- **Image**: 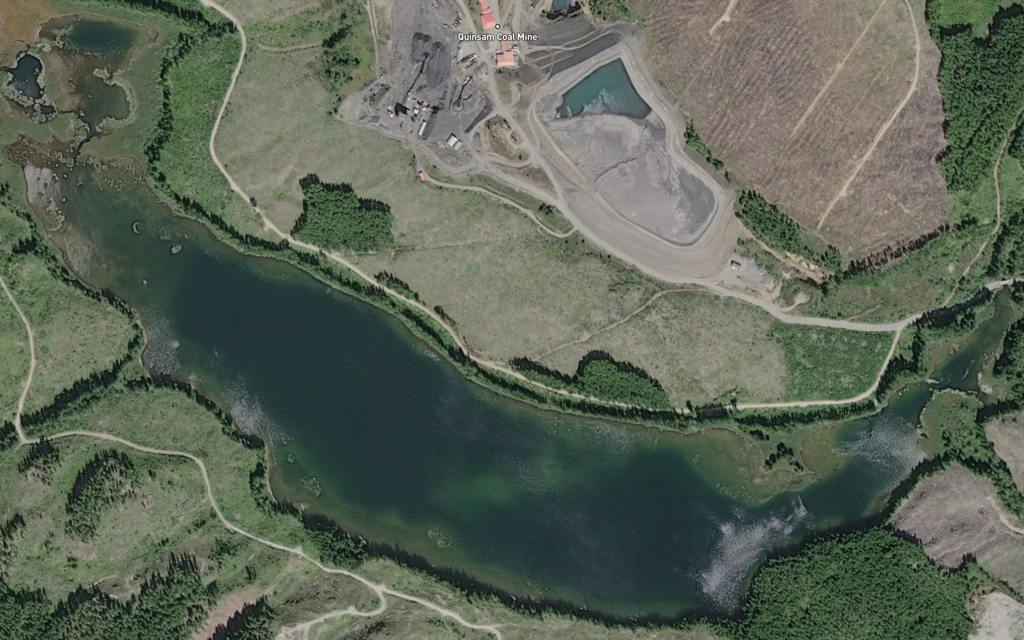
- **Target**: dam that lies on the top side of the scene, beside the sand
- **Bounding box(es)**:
[530,24,740,280]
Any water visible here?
Yes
